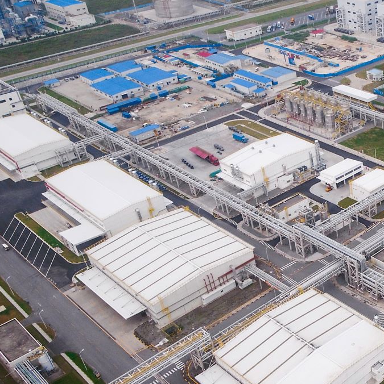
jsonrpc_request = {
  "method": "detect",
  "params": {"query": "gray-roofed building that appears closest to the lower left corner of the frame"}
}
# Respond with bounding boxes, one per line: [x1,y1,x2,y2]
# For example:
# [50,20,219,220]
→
[0,318,46,371]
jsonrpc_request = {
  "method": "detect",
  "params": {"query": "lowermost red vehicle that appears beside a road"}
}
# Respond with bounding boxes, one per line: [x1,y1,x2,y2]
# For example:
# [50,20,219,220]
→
[190,145,213,161]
